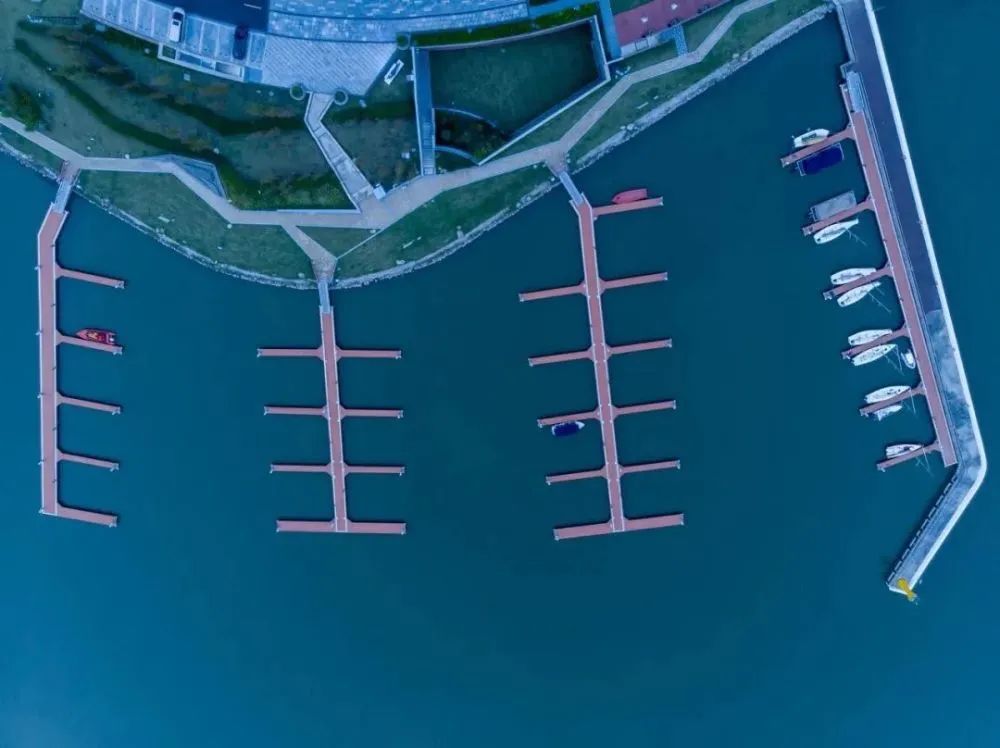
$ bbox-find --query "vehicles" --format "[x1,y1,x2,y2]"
[162,6,186,44]
[230,24,250,62]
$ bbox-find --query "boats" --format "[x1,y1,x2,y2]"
[793,143,845,177]
[852,345,903,373]
[847,329,897,353]
[836,283,889,309]
[792,129,829,148]
[829,266,881,288]
[75,329,118,345]
[807,190,856,222]
[864,386,915,413]
[874,405,910,426]
[550,422,585,434]
[812,221,862,246]
[611,187,647,203]
[899,346,915,368]
[885,443,931,471]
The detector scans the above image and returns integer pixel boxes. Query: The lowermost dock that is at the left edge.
[34,203,126,529]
